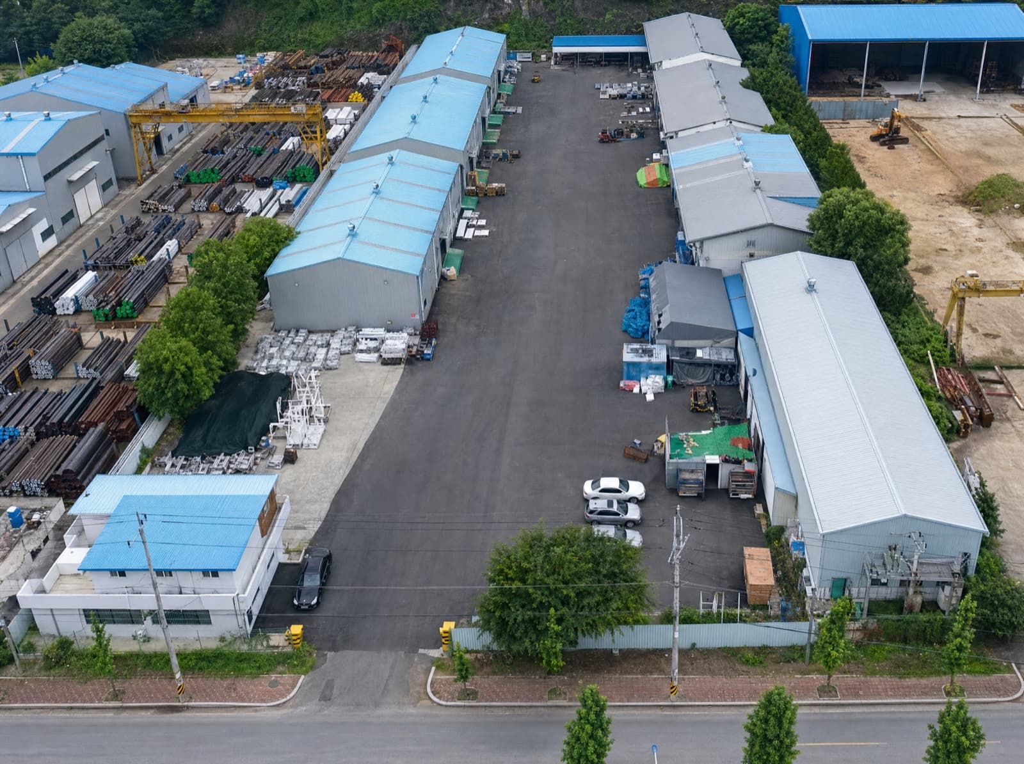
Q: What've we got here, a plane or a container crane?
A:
container crane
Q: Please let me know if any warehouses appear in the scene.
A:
Yes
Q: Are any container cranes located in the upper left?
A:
Yes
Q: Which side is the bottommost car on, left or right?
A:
left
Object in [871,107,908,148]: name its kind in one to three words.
work vehicle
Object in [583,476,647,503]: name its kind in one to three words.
car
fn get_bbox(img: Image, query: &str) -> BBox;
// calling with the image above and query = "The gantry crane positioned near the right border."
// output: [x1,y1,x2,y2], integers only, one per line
[938,269,1024,385]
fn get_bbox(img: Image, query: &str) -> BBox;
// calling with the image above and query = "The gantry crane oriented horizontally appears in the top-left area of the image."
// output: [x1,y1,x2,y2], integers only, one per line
[120,95,319,187]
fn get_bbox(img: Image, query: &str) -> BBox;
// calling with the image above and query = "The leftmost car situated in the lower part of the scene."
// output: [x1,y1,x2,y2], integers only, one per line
[288,555,334,613]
